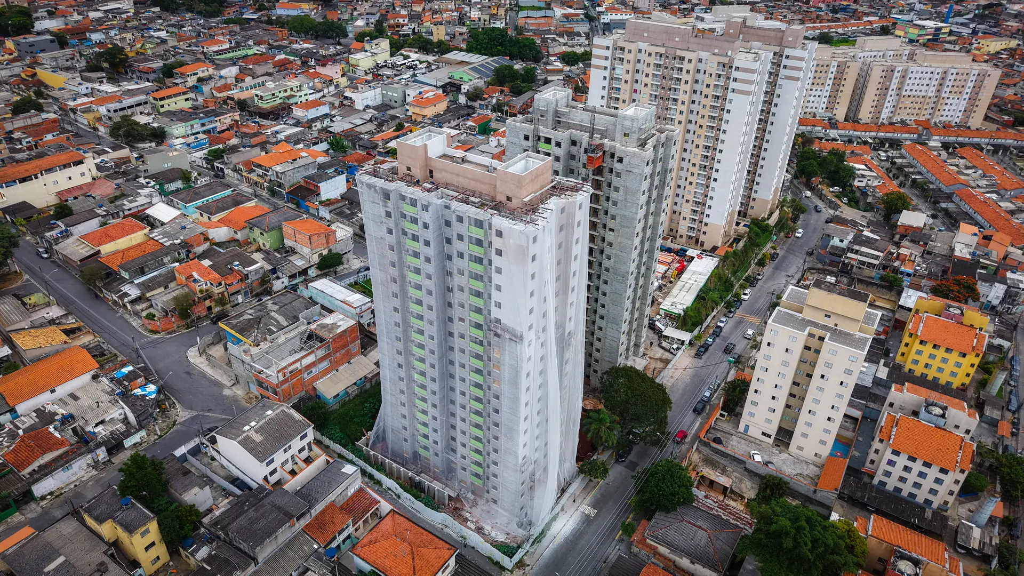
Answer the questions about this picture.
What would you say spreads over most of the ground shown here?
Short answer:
buildings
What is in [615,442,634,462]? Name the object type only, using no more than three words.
car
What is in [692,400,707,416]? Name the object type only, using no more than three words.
car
